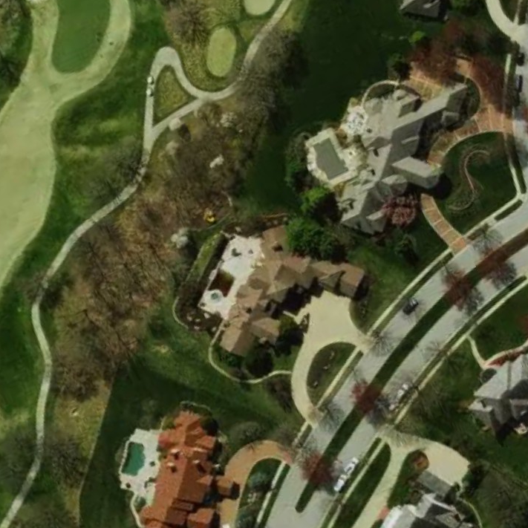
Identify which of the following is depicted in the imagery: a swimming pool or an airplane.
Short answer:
swimming pool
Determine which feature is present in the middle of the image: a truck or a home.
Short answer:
home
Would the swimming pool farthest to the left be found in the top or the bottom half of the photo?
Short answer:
bottom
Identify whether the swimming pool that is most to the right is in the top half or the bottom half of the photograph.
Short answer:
top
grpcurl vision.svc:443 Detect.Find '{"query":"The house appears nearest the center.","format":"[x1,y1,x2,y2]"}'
[219,226,370,360]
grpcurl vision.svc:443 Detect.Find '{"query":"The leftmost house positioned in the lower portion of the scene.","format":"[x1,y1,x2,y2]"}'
[139,407,236,528]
